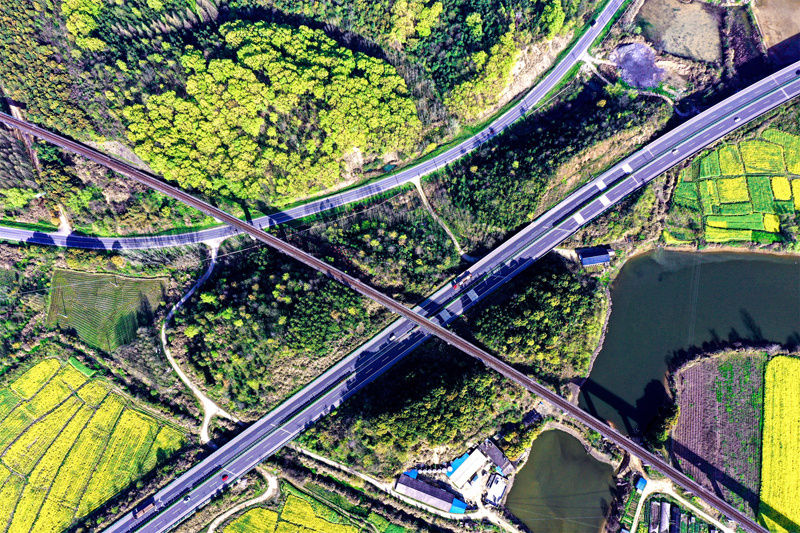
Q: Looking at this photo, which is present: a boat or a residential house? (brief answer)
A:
residential house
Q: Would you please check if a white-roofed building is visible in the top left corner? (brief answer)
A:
No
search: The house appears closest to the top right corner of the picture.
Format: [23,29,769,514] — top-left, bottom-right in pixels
[582,247,610,266]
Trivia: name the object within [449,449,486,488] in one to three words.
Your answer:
shed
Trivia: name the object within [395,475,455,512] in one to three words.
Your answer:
barn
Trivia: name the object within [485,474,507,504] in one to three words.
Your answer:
house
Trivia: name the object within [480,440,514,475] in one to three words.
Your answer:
house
